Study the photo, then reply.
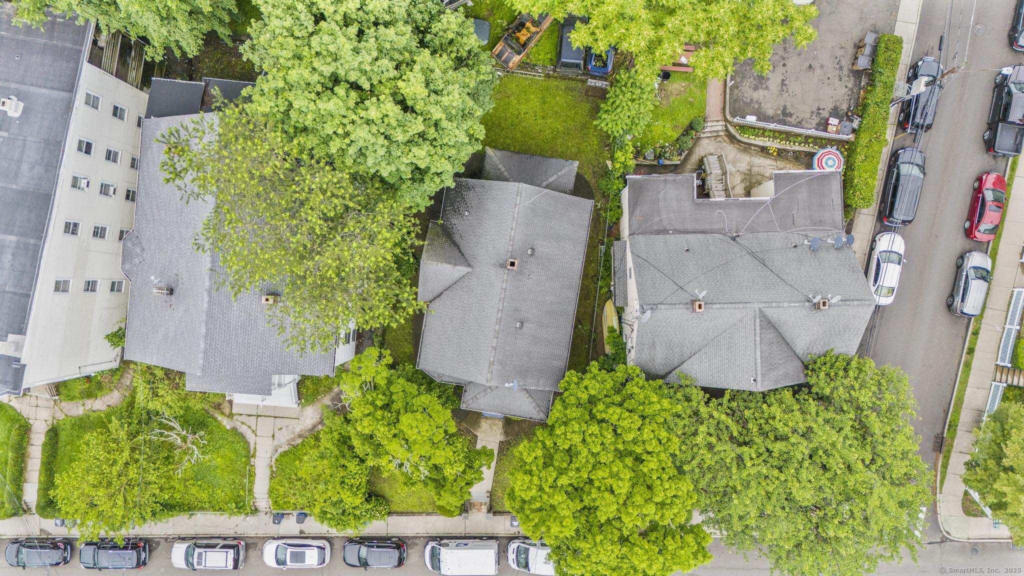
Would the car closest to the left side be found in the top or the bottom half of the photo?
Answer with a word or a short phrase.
bottom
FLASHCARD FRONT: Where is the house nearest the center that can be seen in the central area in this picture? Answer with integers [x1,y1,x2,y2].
[416,145,595,424]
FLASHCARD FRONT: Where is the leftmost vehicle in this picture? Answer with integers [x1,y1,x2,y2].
[7,537,75,571]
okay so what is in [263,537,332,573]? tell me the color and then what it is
white car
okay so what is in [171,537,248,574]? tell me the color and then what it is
white car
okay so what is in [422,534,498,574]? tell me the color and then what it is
white van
